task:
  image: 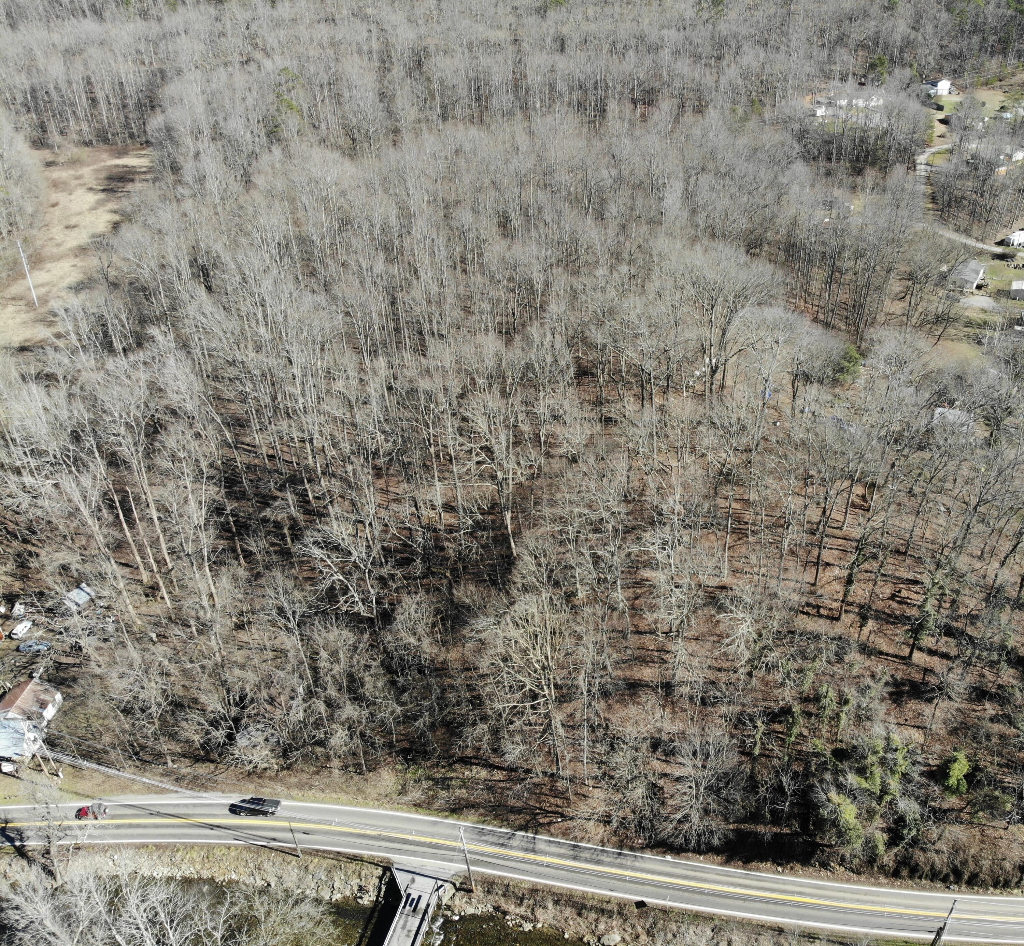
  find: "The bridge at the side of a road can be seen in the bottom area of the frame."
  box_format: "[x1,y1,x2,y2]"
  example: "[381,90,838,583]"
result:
[383,863,452,946]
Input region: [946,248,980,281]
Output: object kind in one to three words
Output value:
house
